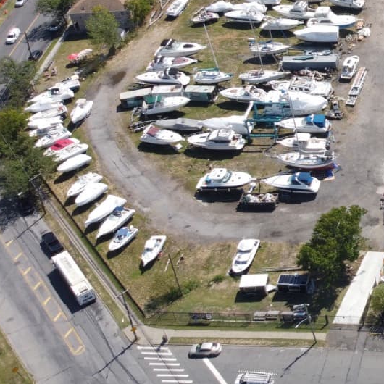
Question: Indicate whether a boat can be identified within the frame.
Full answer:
Yes, there is a boat in the image.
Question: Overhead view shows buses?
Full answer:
Yes, you can see a bus in this photo.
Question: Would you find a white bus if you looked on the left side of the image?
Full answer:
Yes, there is a white bus on the left side of the image.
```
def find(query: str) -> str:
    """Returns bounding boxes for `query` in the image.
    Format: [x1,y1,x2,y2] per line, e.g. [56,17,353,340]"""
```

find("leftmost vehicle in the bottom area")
[42,231,58,257]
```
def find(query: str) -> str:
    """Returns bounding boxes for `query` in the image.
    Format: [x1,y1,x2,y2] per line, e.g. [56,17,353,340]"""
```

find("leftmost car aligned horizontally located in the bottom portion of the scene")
[188,342,223,358]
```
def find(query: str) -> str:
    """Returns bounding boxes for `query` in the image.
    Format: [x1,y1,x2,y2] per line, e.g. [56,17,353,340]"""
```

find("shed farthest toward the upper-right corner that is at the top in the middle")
[185,84,222,102]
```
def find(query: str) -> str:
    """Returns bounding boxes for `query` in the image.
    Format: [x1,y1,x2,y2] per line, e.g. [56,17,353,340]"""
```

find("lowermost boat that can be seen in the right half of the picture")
[232,239,268,272]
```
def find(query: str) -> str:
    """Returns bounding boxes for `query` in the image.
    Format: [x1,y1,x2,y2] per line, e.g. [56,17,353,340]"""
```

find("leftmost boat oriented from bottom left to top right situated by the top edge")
[162,0,189,20]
